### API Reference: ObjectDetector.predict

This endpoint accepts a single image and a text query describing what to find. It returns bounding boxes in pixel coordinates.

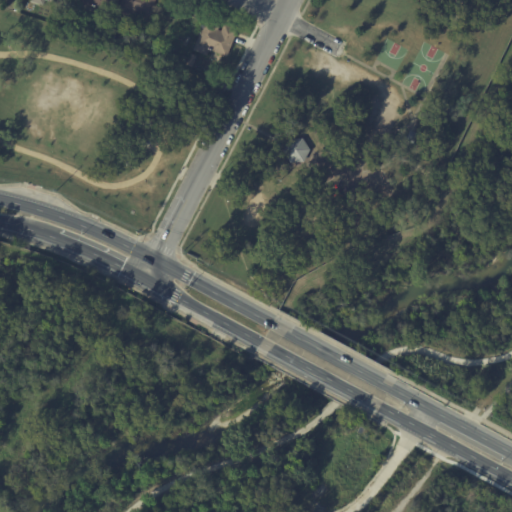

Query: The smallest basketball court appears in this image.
[377,38,408,70]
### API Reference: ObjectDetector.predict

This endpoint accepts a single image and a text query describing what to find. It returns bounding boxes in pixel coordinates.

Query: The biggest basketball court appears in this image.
[404,42,445,94]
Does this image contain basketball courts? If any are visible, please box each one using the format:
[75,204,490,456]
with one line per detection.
[377,38,408,70]
[404,42,445,94]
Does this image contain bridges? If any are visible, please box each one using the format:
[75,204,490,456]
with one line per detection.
[250,312,398,414]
